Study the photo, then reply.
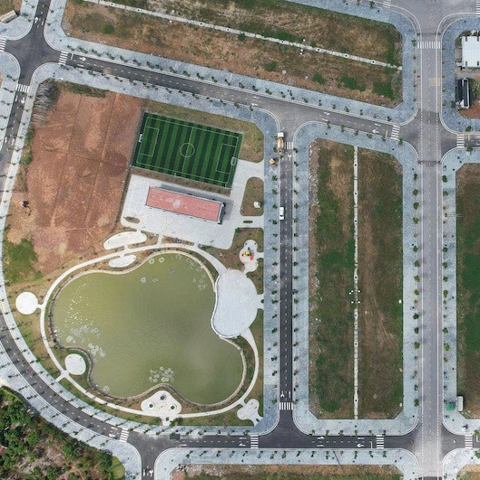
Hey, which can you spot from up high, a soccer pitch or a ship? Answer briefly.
soccer pitch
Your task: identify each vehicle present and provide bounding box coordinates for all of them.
[277,132,283,153]
[278,206,284,219]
